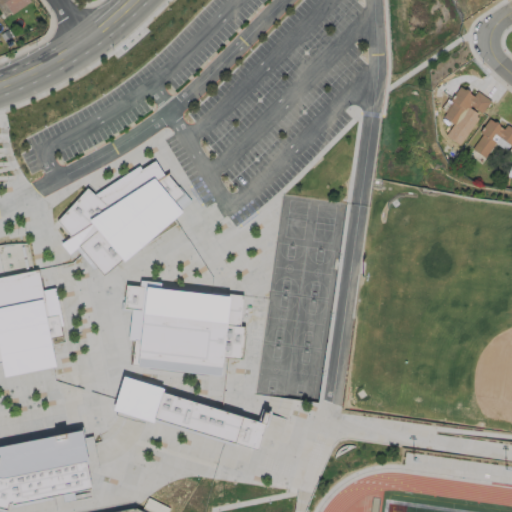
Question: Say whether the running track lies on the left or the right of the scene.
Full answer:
The running track sits on the right side.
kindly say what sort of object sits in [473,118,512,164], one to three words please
house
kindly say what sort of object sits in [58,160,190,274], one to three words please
building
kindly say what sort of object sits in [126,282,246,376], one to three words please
building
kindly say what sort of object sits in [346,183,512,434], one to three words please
sports field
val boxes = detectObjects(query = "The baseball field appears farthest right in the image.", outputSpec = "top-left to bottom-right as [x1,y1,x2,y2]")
[474,327,512,423]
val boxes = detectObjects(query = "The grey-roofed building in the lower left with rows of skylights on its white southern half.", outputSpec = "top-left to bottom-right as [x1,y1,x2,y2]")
[0,431,98,510]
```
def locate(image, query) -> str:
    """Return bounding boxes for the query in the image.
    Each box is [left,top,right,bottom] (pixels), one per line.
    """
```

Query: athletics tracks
[323,473,512,512]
